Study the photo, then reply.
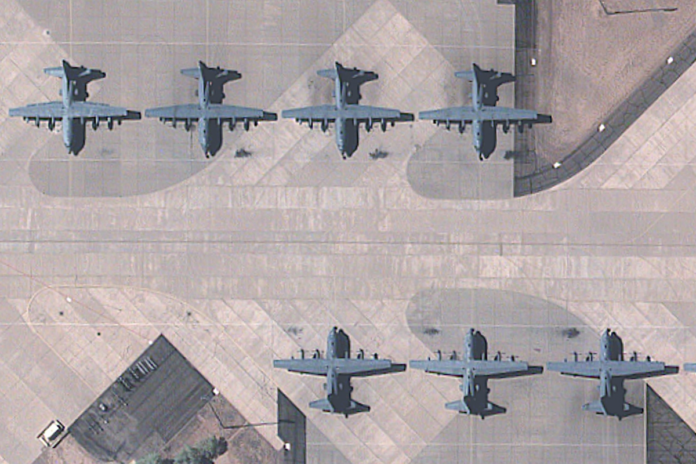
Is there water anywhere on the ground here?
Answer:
No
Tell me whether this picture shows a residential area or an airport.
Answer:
airport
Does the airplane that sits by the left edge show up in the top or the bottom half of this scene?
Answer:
top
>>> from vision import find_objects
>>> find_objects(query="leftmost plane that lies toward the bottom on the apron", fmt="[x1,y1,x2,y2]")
[273,327,392,414]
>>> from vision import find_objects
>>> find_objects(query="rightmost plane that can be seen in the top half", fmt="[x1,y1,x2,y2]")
[419,63,538,156]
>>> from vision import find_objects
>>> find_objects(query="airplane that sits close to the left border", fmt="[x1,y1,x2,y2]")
[10,60,127,153]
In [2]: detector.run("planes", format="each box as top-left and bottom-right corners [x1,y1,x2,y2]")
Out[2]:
[409,328,529,414]
[419,63,538,156]
[283,61,400,154]
[683,363,696,372]
[145,62,264,154]
[10,60,127,153]
[273,327,392,414]
[546,329,666,416]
